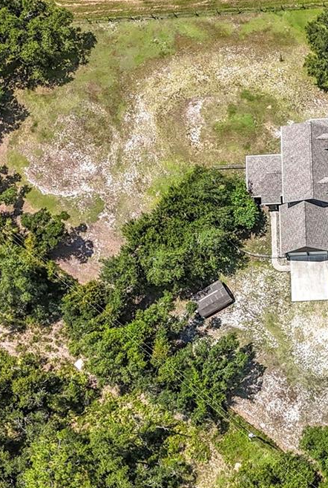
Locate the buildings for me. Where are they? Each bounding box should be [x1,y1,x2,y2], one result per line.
[191,282,232,320]
[246,115,328,260]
